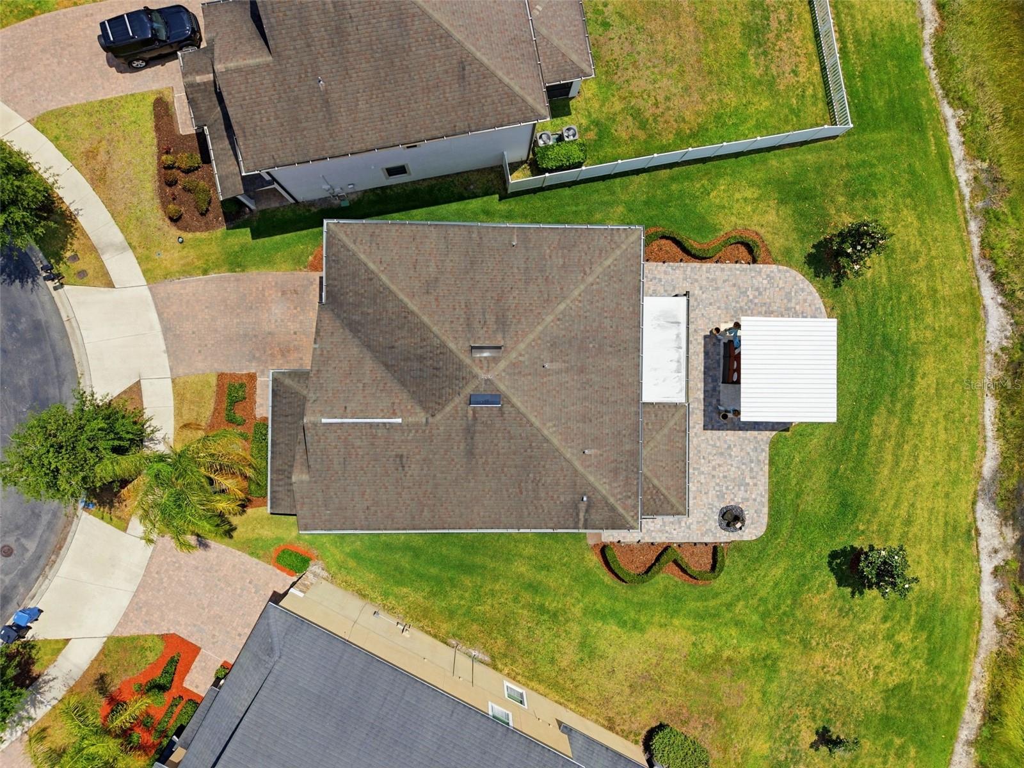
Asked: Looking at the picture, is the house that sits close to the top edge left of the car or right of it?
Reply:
on the right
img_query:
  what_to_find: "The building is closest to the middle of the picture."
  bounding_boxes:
[268,219,689,535]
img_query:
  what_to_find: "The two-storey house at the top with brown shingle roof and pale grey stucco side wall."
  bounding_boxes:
[177,0,597,212]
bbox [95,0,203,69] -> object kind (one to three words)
car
